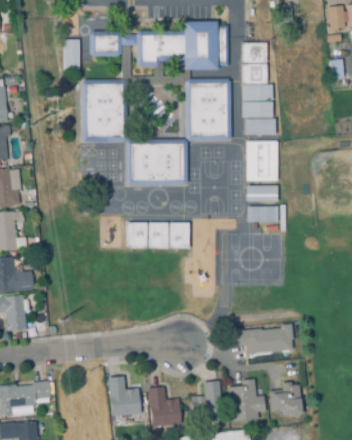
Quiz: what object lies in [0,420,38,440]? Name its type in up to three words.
house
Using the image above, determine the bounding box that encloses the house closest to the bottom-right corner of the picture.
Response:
[270,382,304,413]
